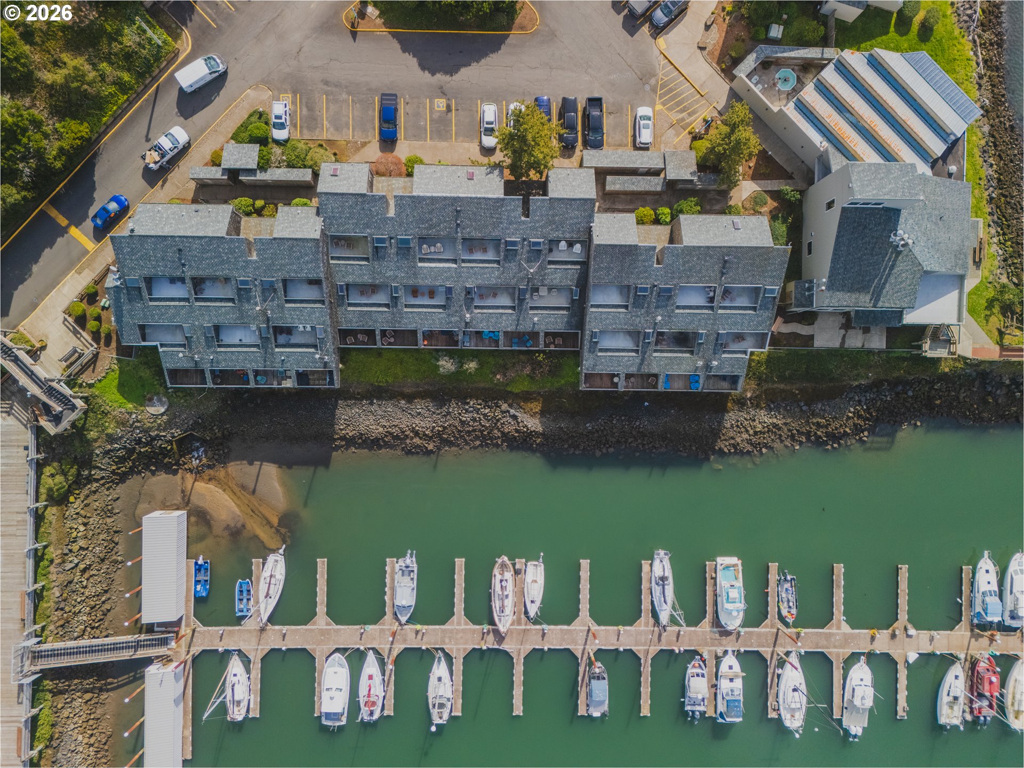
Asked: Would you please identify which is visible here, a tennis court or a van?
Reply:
van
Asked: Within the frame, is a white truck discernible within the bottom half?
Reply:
No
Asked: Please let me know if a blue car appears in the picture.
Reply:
Yes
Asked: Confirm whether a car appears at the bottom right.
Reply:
No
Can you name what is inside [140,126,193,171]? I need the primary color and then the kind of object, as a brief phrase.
white truck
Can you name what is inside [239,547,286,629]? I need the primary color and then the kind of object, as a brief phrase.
white boat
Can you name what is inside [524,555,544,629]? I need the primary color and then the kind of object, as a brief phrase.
white boat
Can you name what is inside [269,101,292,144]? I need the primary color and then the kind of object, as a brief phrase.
white car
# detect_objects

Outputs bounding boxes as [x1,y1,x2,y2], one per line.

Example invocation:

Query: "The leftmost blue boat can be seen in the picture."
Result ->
[194,550,211,598]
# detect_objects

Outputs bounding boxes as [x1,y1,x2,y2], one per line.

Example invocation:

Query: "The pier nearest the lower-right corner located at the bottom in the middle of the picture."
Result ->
[175,557,1024,759]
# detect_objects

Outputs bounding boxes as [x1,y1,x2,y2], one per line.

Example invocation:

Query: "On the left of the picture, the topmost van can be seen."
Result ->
[169,55,228,95]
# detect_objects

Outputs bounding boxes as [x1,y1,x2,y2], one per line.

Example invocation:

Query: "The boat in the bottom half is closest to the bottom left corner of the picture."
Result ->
[204,650,251,725]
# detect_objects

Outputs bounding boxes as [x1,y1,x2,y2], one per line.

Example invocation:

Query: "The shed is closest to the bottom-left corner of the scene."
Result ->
[144,661,188,768]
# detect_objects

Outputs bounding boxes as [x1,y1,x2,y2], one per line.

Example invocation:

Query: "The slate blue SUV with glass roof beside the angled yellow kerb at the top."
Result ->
[653,0,696,28]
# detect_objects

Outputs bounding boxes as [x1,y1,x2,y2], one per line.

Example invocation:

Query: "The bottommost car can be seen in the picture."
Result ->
[89,192,132,231]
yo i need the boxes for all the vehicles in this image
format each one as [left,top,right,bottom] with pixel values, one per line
[560,95,581,150]
[634,106,656,150]
[534,94,552,119]
[478,104,499,151]
[89,192,132,231]
[622,0,656,20]
[584,95,607,151]
[377,92,400,144]
[269,101,292,144]
[140,126,193,171]
[169,55,228,95]
[653,0,696,28]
